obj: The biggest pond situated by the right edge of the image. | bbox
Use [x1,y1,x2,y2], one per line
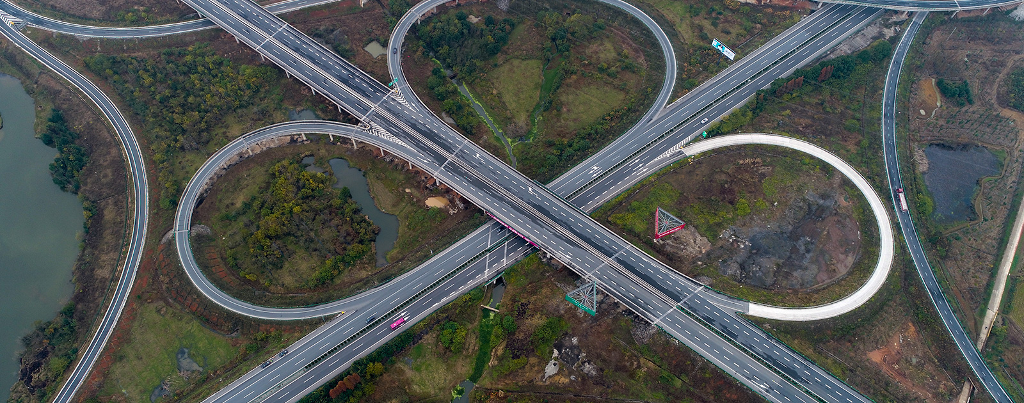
[924,143,999,222]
